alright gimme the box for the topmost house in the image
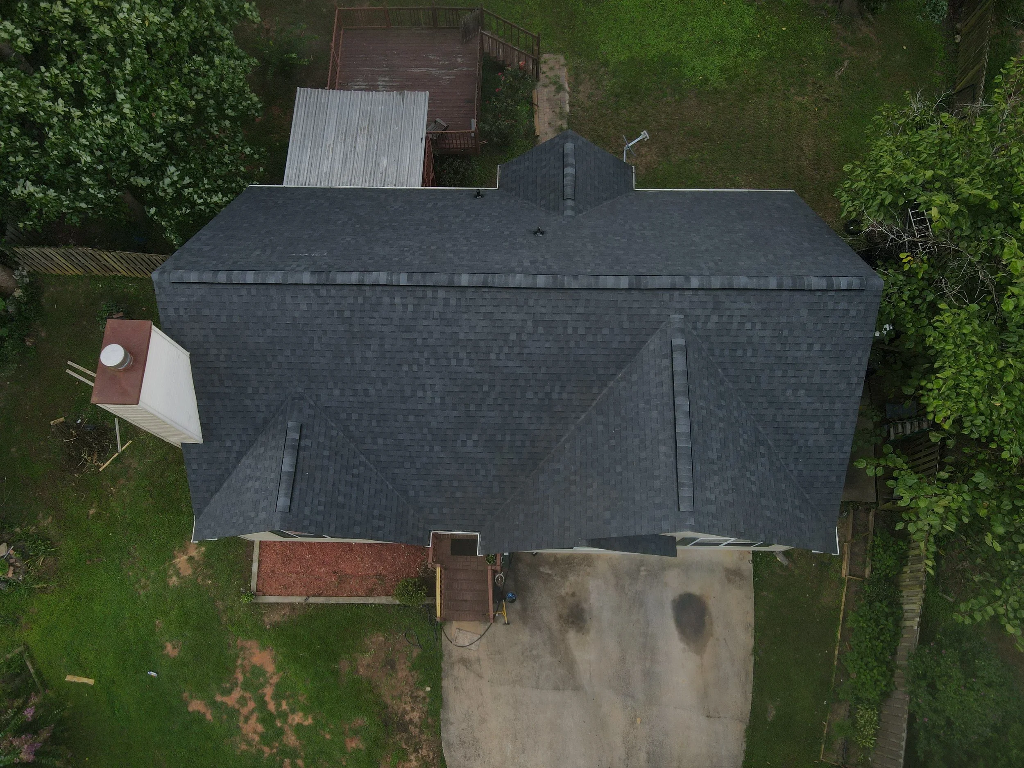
[89,130,884,557]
